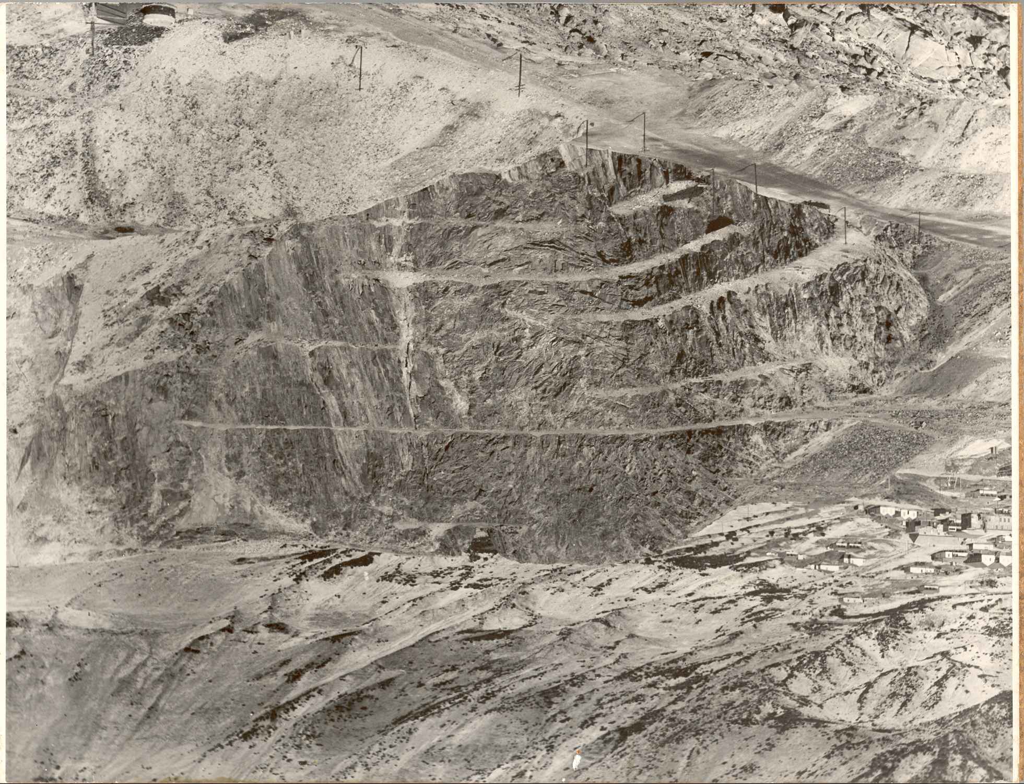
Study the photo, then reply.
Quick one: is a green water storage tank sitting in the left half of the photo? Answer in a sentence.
No, the scene shows no green water storage tank in the left half of the photo.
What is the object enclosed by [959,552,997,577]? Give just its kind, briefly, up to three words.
house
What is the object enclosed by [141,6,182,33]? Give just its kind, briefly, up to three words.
water tank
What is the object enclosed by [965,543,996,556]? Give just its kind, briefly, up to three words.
house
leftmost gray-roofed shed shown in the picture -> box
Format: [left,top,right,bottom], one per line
[95,1,136,35]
